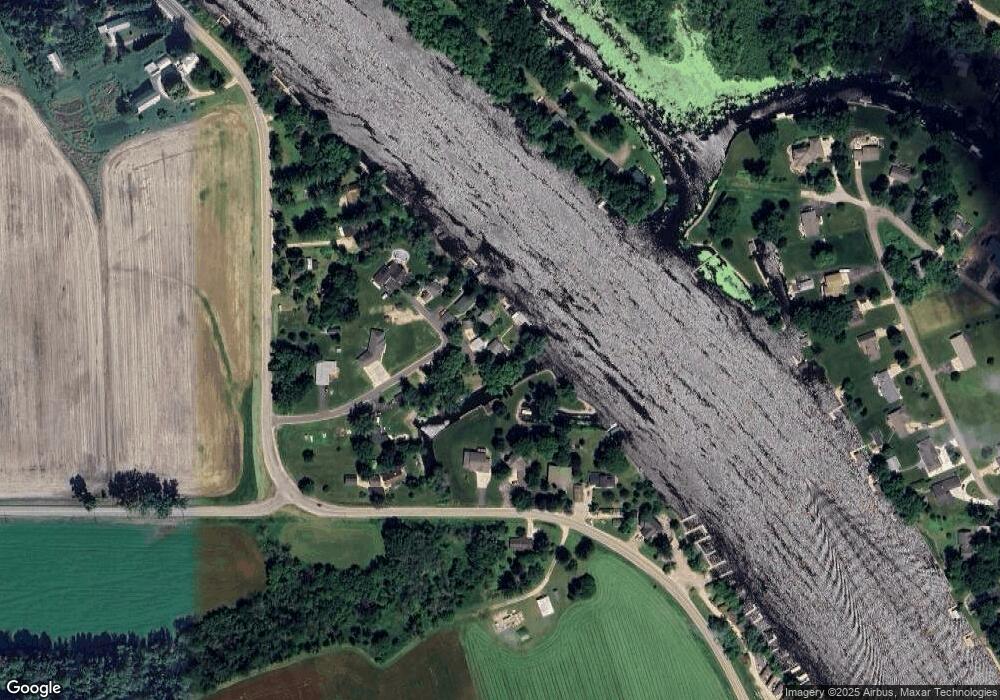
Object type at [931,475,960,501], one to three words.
house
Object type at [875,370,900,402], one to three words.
house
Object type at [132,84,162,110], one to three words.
barn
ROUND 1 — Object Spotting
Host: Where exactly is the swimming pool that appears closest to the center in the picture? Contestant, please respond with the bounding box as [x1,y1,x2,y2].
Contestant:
[392,245,409,264]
